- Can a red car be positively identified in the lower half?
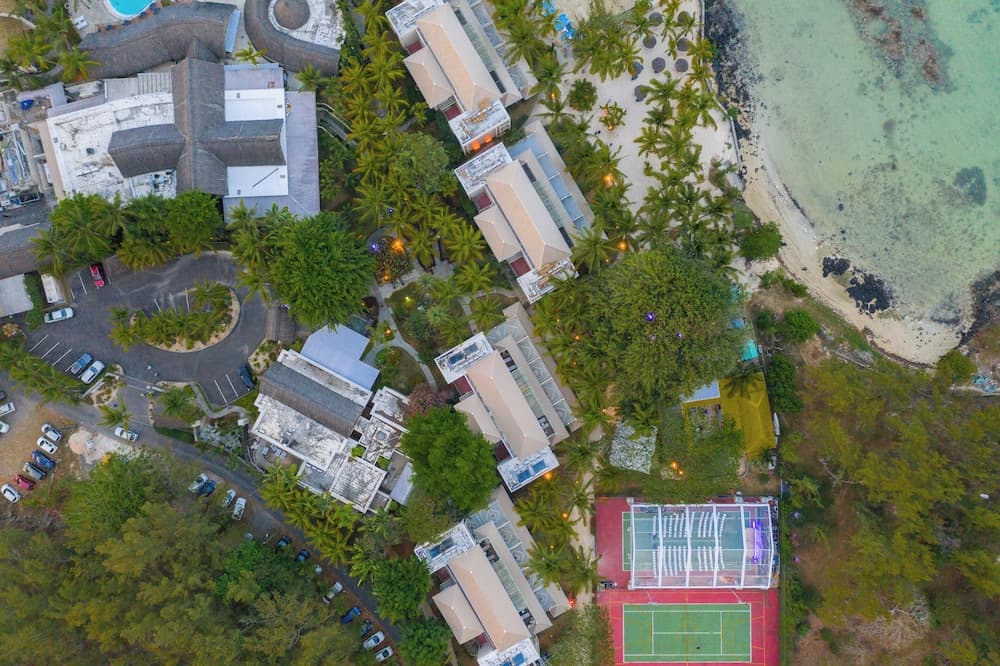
Yes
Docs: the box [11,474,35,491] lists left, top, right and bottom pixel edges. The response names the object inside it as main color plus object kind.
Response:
red car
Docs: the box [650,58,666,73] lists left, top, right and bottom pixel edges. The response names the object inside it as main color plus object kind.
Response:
gray umbrella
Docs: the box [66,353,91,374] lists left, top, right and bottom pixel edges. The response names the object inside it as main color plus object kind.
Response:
blue car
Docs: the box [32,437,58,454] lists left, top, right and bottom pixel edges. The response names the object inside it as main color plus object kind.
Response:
white car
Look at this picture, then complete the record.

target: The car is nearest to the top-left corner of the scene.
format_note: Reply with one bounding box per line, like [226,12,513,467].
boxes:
[86,262,104,286]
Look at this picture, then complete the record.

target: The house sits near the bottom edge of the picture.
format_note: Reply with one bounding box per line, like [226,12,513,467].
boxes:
[415,482,574,666]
